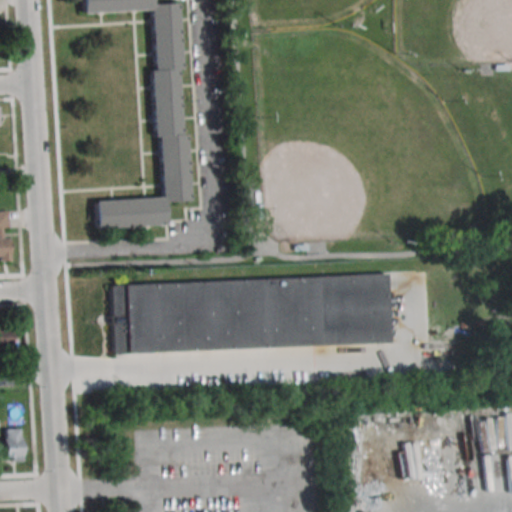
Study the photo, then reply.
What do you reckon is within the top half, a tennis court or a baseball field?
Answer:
baseball field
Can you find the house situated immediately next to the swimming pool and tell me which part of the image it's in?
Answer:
bottom left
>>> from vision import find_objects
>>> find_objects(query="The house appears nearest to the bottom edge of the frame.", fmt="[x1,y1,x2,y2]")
[6,428,28,462]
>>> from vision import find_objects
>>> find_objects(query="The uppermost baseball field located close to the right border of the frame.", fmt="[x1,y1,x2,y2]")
[396,0,512,66]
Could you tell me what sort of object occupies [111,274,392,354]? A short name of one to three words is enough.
building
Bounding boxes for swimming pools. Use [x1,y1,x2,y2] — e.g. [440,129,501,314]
[8,403,25,425]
